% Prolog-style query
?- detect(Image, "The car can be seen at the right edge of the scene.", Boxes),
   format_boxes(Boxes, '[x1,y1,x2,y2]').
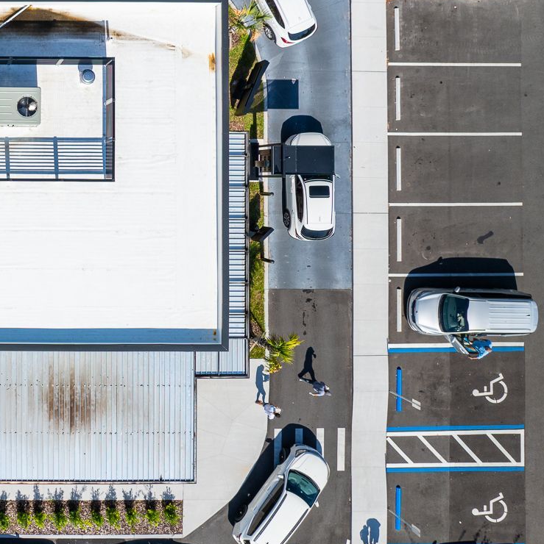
[403,285,539,355]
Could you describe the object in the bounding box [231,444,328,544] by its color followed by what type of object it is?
white car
